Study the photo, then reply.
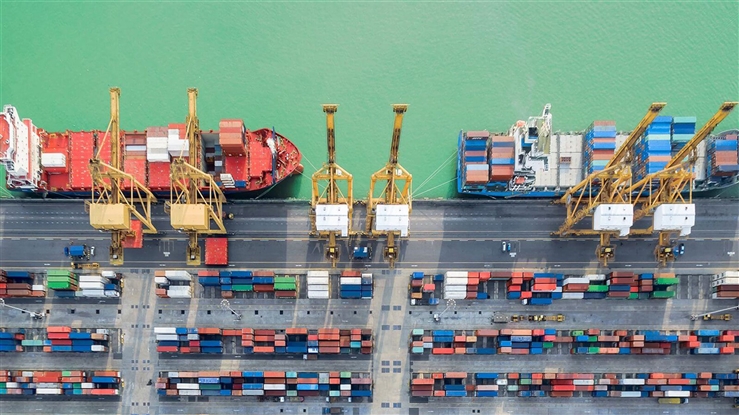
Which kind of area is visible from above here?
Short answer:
port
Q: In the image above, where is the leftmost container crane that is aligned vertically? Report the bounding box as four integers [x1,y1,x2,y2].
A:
[89,87,158,267]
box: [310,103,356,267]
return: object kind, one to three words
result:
container crane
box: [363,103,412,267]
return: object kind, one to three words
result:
container crane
